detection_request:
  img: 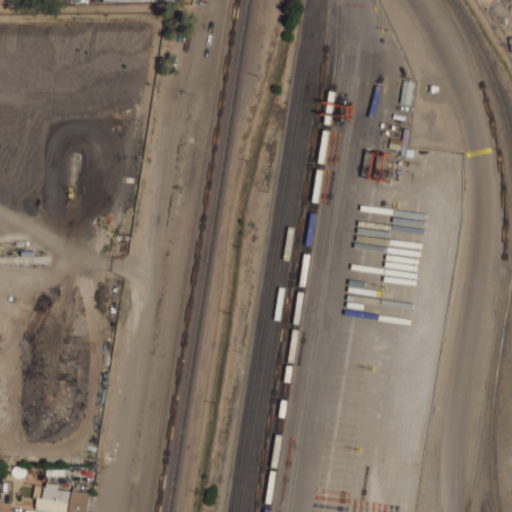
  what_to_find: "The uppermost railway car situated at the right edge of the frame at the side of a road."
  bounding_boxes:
[480,83,494,118]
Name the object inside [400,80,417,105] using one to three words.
building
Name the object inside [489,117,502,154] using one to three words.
rail car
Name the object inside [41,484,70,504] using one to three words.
house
